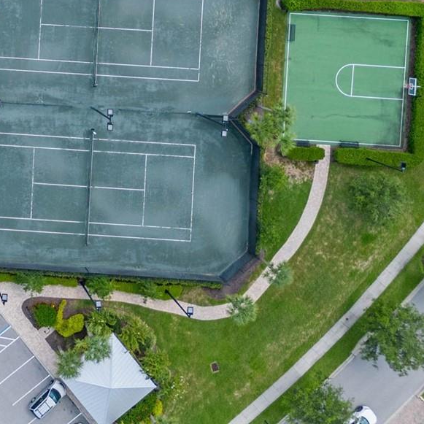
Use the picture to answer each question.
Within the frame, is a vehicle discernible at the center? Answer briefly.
No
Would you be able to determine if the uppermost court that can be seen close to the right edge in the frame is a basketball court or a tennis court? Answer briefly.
basketball court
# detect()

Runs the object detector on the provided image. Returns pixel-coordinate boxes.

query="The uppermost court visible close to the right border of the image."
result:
[282,11,411,148]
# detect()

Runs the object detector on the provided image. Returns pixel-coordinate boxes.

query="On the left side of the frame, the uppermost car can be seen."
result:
[28,383,67,422]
